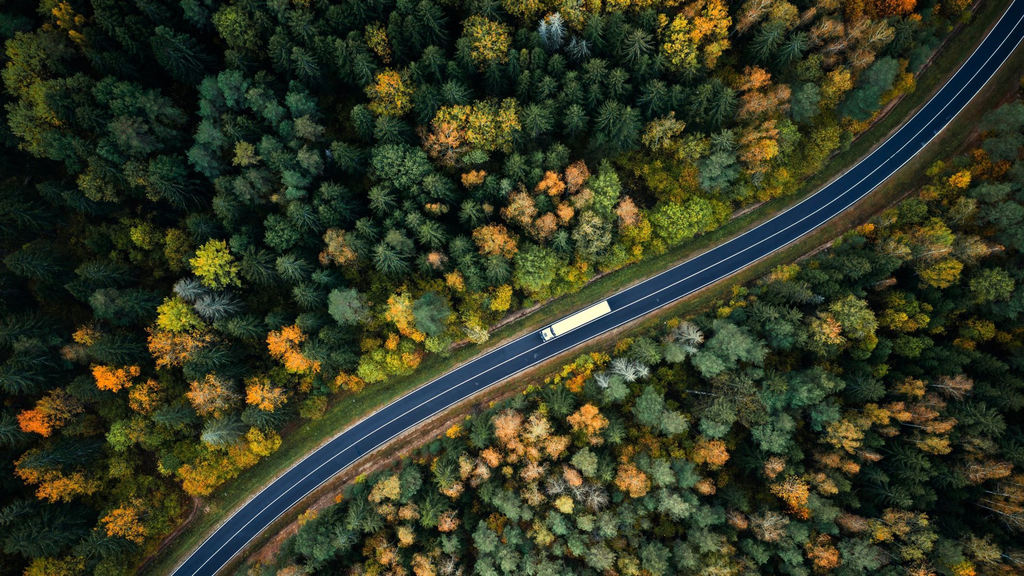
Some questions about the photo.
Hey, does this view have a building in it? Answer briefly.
No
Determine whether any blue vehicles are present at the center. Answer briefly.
No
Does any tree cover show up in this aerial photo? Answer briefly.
Yes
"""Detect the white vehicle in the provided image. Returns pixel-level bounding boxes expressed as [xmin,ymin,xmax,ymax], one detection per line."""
[541,301,611,341]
